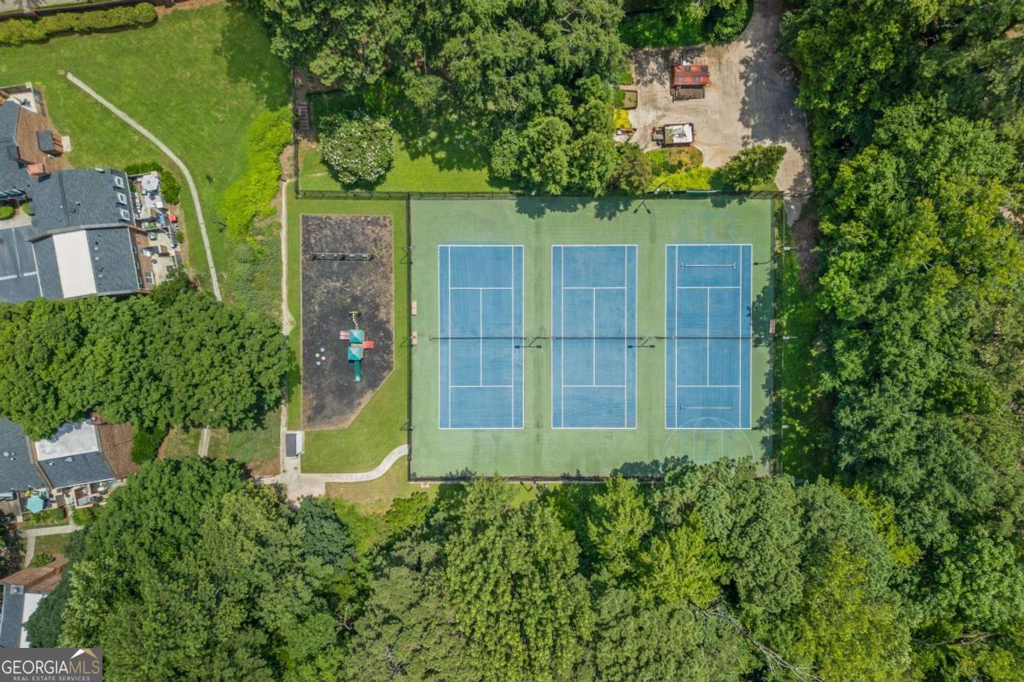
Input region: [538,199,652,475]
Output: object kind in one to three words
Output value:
tennis court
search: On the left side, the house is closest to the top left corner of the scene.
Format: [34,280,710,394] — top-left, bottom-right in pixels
[0,102,77,205]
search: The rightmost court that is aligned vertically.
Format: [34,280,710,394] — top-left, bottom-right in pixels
[652,199,773,475]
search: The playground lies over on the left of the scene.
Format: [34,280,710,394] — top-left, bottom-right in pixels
[300,214,395,429]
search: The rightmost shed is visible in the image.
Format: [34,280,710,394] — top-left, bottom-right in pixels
[671,65,709,102]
